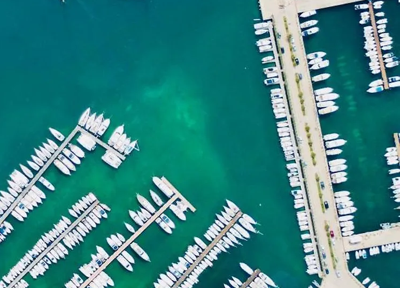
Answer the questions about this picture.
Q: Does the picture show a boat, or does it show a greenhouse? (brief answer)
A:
boat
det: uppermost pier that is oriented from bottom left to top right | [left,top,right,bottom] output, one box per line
[0,124,126,225]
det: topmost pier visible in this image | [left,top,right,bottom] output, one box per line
[368,0,389,89]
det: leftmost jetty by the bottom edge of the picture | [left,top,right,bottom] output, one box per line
[6,198,99,288]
